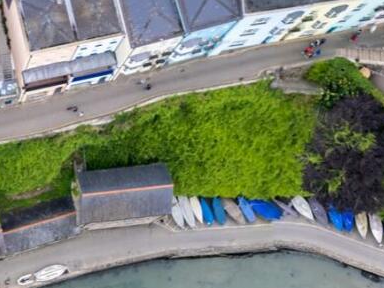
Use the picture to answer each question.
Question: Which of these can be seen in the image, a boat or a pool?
boat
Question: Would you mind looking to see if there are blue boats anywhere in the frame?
Yes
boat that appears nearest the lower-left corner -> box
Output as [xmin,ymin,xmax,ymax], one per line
[18,273,35,285]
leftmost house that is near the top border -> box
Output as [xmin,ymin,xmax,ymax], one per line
[8,0,77,99]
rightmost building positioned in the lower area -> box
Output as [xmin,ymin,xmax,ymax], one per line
[79,162,178,233]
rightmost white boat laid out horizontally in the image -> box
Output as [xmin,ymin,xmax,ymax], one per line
[34,262,70,281]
